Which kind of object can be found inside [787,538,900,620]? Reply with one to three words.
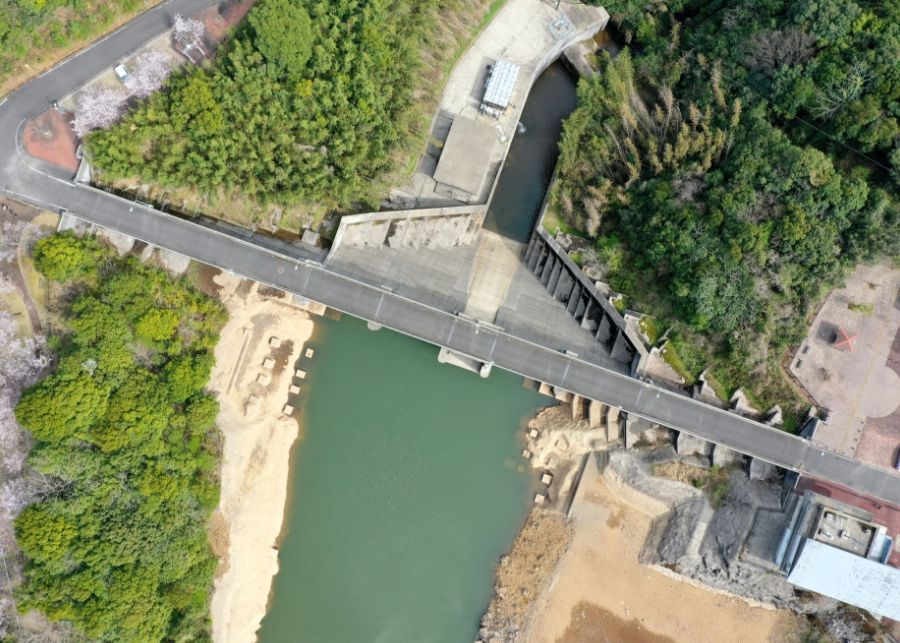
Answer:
building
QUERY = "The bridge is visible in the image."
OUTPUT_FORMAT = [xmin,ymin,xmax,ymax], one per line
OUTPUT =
[66,183,813,473]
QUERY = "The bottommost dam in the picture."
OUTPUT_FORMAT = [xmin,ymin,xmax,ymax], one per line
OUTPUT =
[77,210,782,477]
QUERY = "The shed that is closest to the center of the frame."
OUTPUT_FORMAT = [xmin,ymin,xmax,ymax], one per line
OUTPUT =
[434,115,497,206]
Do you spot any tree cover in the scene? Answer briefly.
Yes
